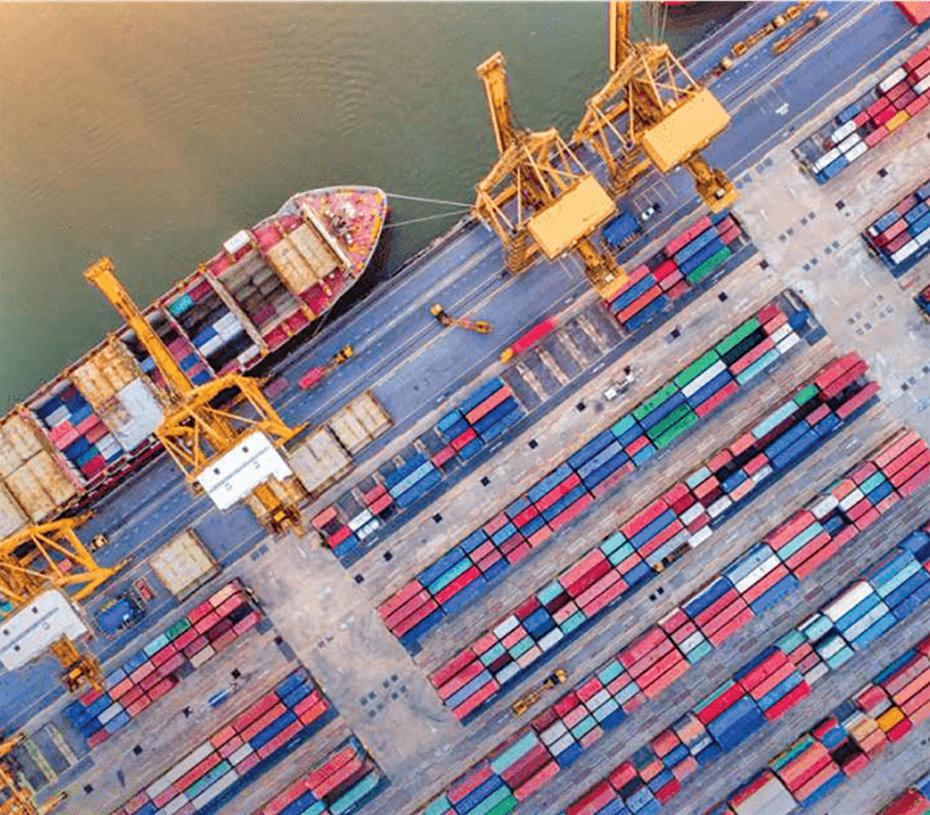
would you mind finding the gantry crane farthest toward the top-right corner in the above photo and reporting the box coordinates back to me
[569,0,744,215]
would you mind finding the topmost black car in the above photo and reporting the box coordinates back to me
[651,197,667,212]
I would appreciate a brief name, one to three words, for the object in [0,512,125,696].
container crane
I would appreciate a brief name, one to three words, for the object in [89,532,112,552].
vehicle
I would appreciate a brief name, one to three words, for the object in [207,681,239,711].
truck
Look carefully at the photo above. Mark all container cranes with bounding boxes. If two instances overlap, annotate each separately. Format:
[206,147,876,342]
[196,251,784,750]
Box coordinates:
[0,734,62,815]
[465,38,635,300]
[569,0,744,215]
[81,259,308,543]
[0,512,125,696]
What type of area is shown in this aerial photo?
port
